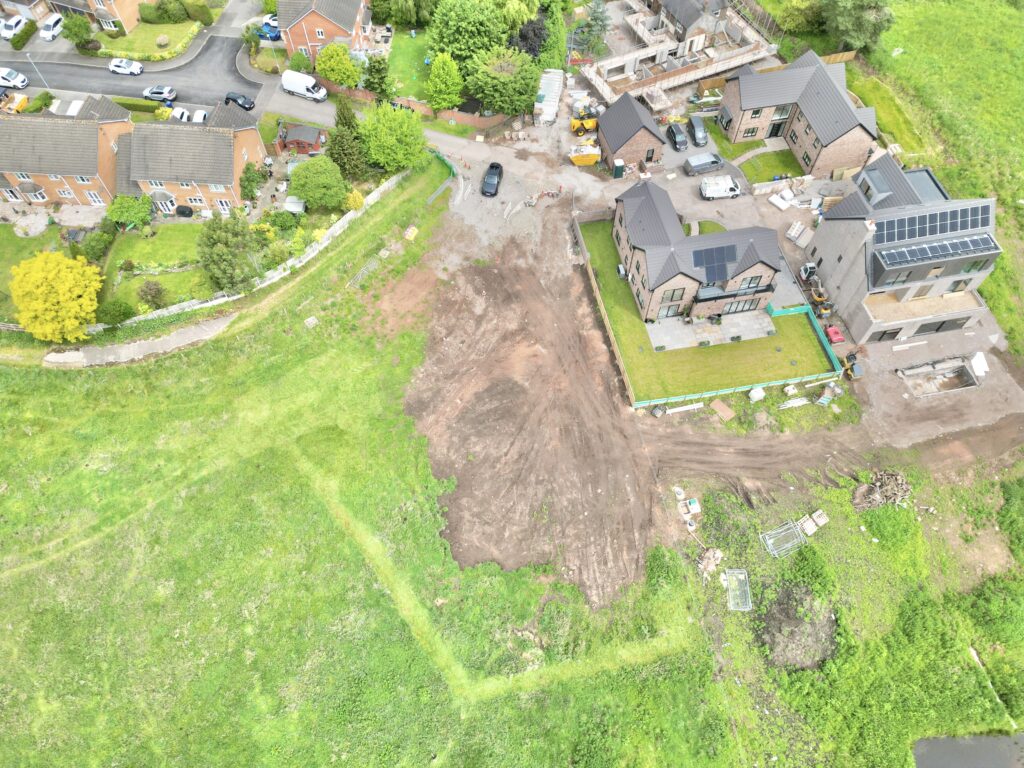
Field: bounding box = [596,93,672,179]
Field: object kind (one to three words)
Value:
building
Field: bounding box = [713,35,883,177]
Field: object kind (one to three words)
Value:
house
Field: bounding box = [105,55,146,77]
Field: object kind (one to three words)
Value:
car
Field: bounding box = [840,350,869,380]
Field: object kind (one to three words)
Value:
truck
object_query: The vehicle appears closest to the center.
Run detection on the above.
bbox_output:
[481,159,502,199]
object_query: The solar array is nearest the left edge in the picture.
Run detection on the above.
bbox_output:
[703,237,747,278]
